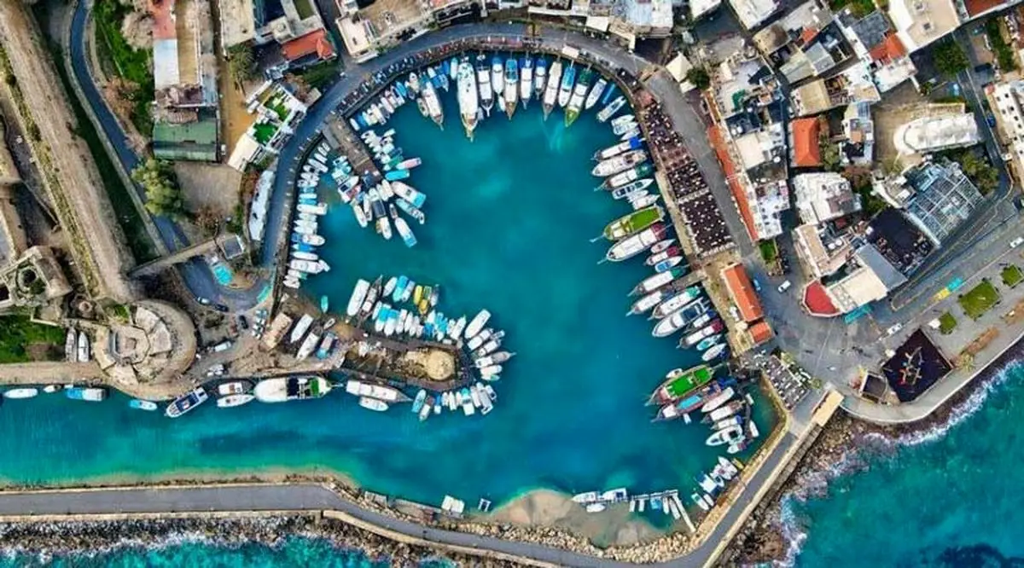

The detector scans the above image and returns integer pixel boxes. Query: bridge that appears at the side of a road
[131,234,228,279]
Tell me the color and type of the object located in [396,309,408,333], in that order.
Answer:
white boat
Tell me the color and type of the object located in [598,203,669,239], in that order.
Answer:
green ship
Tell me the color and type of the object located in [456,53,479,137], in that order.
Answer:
white ship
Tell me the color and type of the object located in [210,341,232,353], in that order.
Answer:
white vehicle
